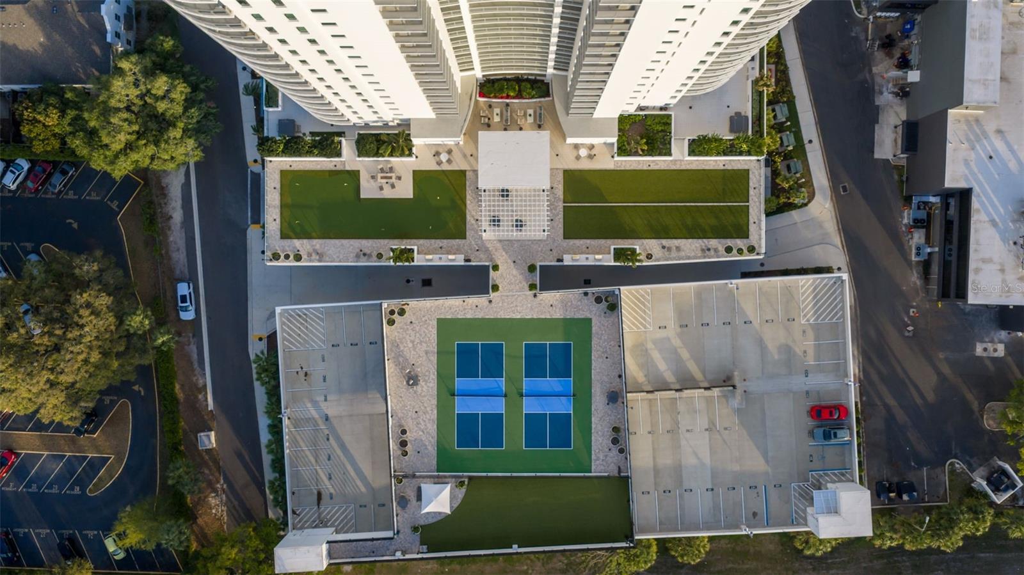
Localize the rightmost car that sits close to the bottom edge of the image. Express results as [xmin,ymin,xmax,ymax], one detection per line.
[103,530,129,563]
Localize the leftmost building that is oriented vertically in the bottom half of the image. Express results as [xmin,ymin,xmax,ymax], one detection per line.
[276,299,394,536]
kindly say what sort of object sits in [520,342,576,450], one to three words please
sports court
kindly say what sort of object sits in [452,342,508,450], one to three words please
sports court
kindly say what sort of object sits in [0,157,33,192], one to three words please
car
